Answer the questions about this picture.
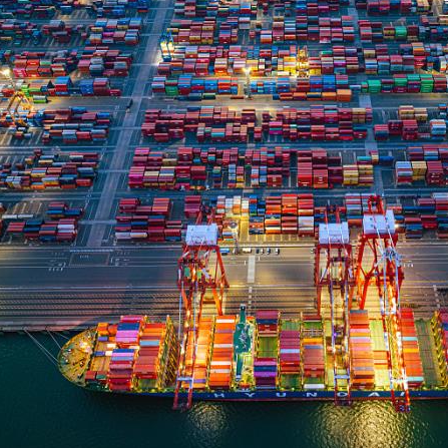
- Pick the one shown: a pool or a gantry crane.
gantry crane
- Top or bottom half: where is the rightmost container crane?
bottom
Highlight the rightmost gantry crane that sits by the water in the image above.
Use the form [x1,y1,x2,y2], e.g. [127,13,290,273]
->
[352,194,412,408]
